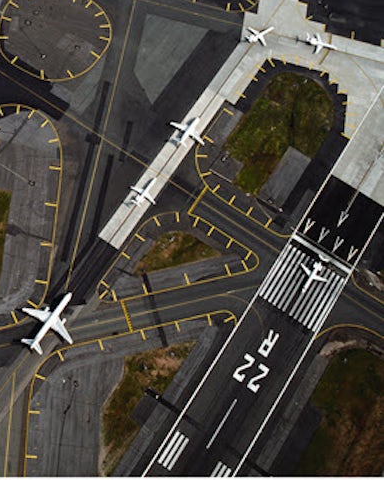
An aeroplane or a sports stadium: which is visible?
aeroplane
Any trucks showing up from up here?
No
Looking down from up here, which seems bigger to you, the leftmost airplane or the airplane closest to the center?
the leftmost airplane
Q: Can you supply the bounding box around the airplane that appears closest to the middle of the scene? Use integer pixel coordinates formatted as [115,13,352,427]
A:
[131,178,157,207]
